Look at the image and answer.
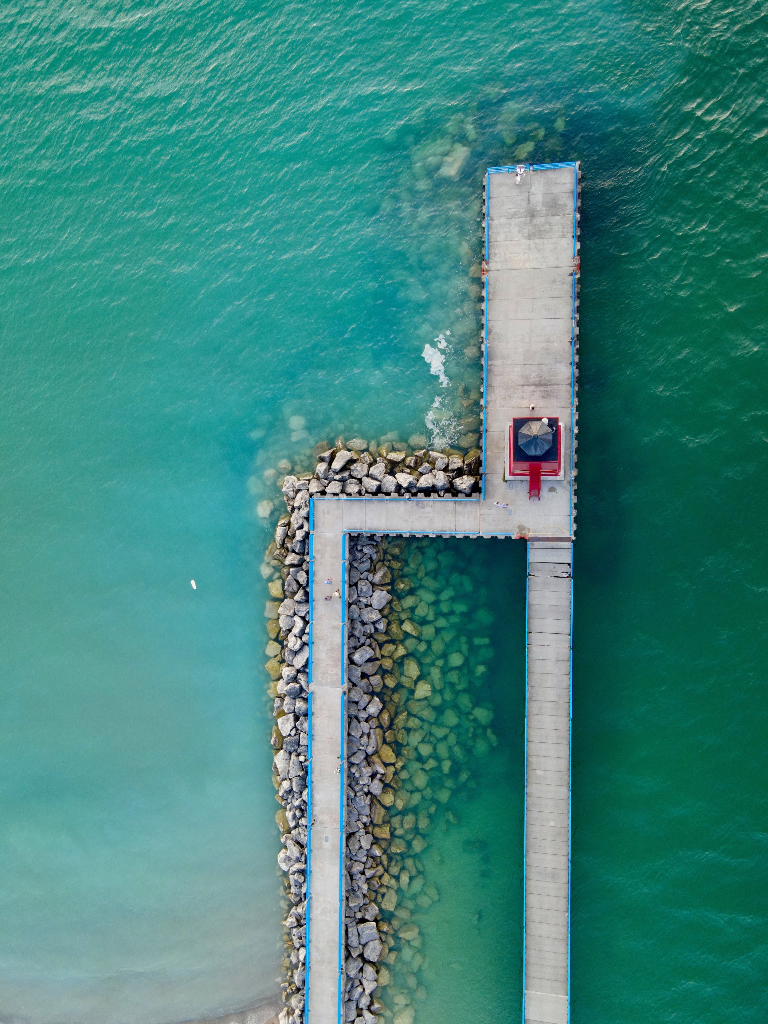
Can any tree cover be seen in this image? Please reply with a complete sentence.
No, the picture contains no tree cover.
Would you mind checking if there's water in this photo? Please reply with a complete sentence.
Yes, some water is visible.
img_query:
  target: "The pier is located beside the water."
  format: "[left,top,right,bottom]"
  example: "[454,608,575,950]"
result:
[479,162,580,540]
